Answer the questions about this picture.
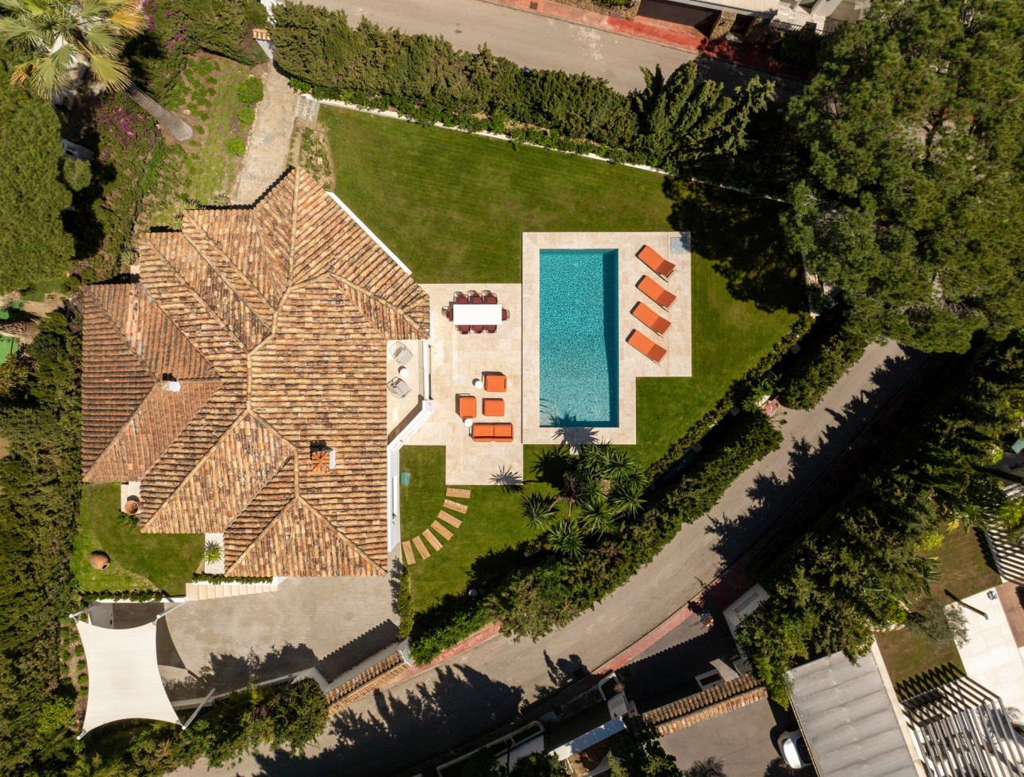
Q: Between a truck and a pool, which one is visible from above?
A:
pool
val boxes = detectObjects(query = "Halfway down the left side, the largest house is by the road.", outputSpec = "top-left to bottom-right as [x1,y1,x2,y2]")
[78,165,432,580]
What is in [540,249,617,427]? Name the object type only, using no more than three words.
swimming pool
